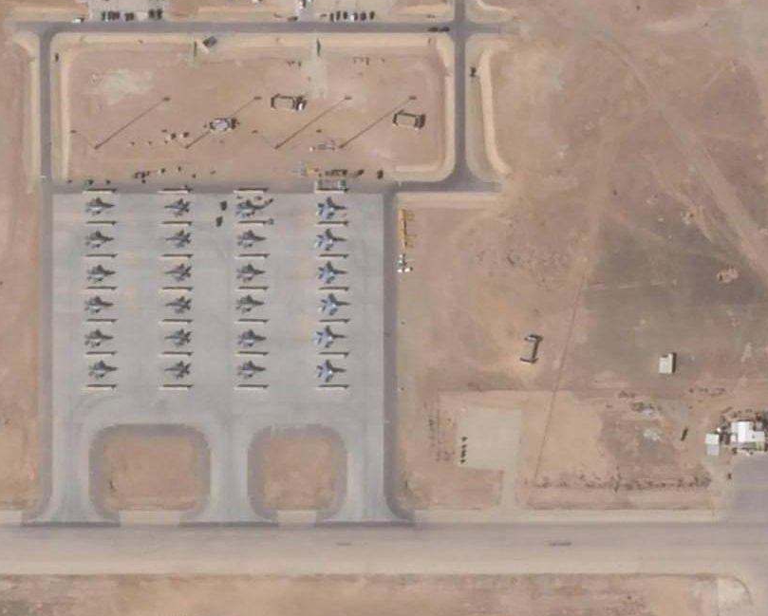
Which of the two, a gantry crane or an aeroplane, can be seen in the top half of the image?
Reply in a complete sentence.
There is an aeroplane in the top half of the image.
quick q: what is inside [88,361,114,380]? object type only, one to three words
airplane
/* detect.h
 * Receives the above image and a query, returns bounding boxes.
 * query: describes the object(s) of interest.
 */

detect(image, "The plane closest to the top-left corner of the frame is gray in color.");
[85,198,112,217]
